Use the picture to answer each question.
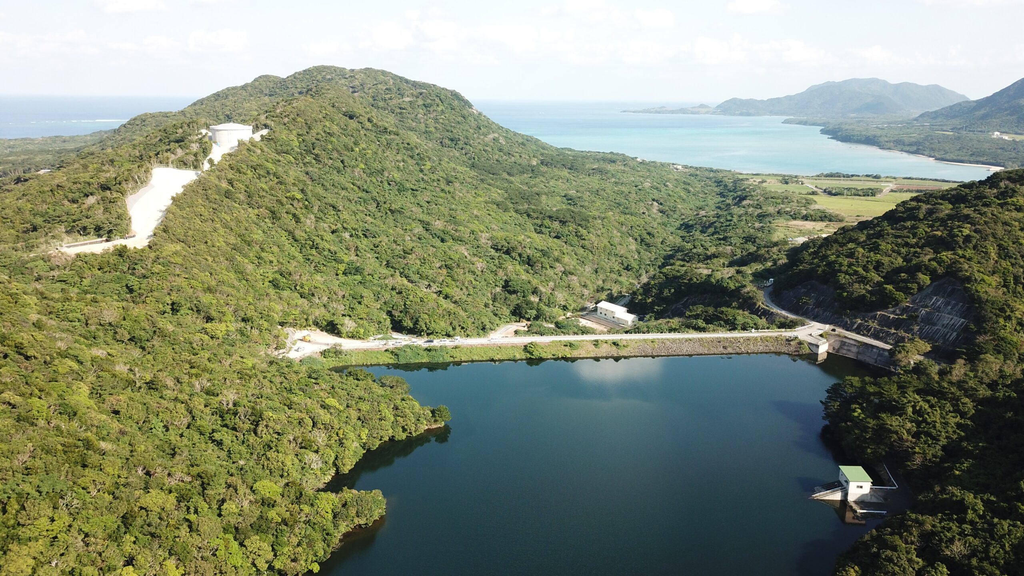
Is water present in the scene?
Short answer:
Yes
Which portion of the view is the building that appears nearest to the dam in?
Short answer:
center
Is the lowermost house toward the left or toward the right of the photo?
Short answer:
right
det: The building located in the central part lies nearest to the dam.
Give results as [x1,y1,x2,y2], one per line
[597,300,641,325]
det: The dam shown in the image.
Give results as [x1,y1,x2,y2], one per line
[300,329,806,366]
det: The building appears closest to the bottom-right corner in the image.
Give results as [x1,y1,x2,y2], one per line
[807,467,880,503]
